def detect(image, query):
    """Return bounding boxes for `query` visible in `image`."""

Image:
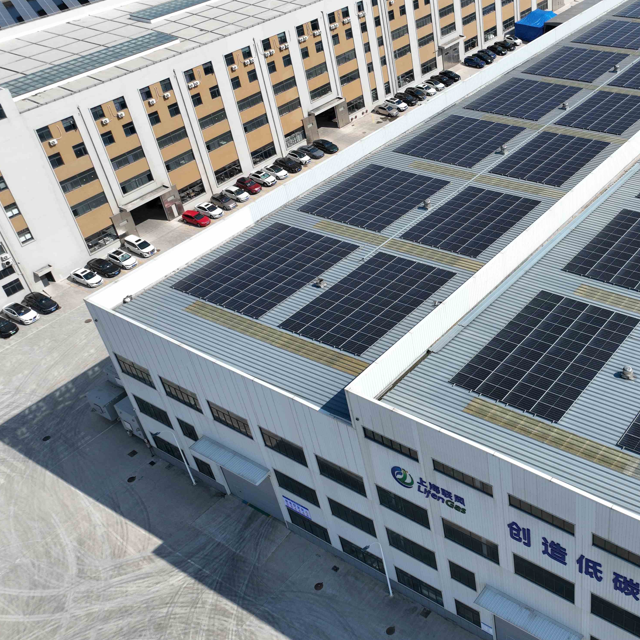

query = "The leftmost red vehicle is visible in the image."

[183,210,211,229]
